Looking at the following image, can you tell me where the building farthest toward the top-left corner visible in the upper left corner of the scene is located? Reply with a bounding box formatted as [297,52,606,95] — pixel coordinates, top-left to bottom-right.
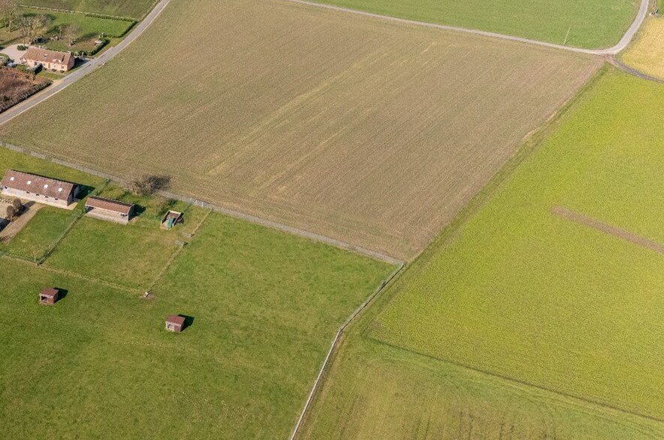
[21,49,74,72]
